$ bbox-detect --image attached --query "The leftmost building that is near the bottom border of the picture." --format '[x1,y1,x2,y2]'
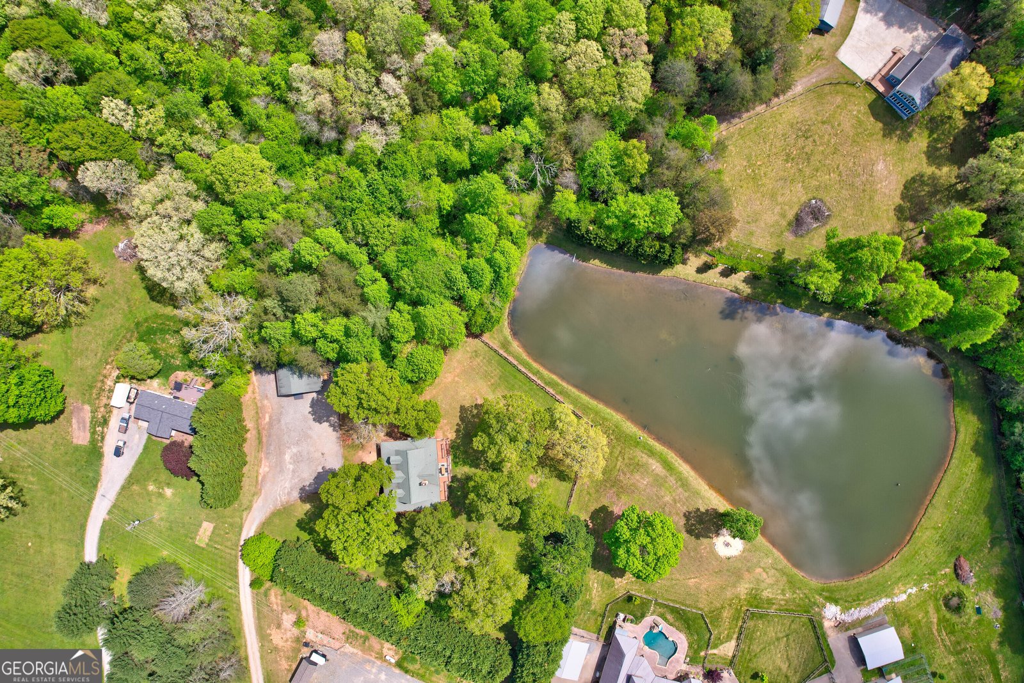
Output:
[290,655,318,683]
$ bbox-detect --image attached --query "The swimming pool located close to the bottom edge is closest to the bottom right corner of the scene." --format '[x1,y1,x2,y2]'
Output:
[642,630,679,668]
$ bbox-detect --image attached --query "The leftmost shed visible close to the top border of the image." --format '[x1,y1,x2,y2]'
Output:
[808,0,843,31]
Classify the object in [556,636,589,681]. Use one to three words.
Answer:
building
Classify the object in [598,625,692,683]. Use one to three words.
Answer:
building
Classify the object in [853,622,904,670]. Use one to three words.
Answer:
barn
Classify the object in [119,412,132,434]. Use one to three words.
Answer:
vehicle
